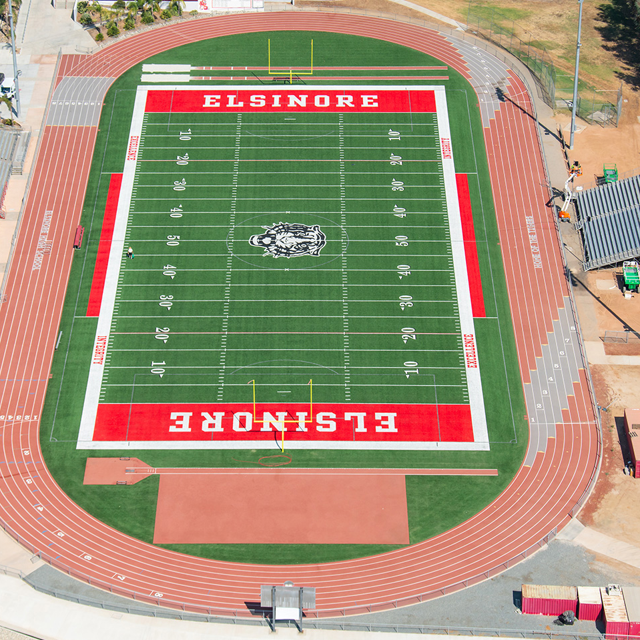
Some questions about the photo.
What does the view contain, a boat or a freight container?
freight container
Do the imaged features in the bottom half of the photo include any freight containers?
Yes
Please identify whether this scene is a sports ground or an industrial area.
sports ground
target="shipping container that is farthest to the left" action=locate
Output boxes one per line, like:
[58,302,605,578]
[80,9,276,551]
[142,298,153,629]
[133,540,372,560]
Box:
[522,585,579,617]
